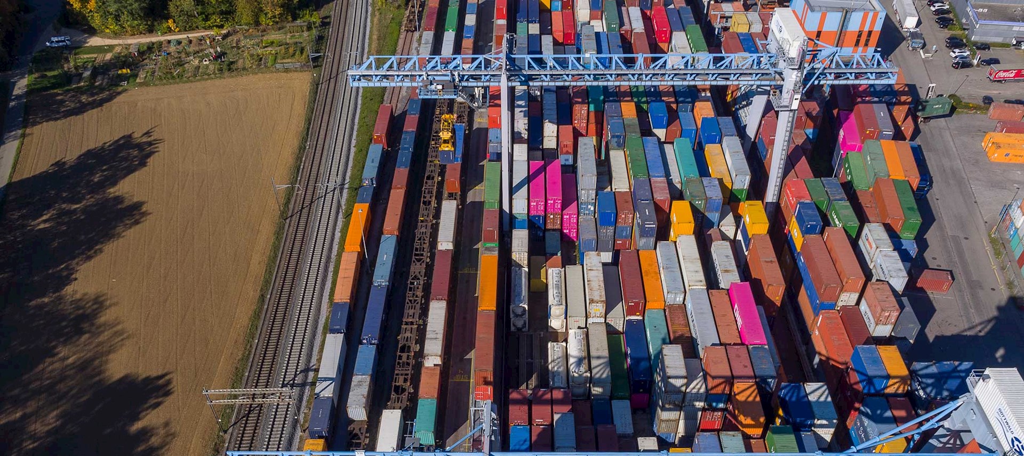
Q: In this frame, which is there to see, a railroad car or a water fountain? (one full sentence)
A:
The one in the frame is a railroad car.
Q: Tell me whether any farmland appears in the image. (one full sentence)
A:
Yes, farmland shows up in the scene.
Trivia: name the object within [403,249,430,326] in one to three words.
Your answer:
rail car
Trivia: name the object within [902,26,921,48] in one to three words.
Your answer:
vehicle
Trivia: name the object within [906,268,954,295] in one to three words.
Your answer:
shipping container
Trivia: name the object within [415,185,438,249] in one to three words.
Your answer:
rail car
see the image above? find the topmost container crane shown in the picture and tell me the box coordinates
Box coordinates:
[345,6,900,254]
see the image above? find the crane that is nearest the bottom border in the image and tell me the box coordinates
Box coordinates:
[236,361,1024,456]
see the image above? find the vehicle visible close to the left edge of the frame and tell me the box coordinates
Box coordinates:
[47,33,70,46]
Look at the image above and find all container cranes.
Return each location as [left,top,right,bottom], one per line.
[236,361,1024,456]
[345,6,900,254]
